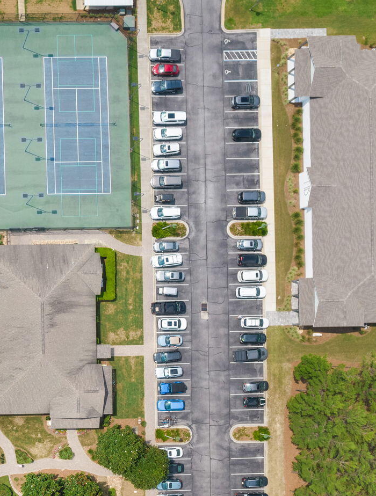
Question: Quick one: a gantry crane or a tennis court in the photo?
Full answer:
The image shows a tennis court.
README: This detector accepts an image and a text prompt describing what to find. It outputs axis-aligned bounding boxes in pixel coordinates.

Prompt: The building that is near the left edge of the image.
[0,244,113,428]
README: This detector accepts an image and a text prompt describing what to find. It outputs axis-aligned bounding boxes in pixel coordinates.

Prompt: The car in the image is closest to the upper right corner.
[230,96,259,110]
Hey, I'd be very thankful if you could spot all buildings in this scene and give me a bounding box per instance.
[0,244,113,428]
[286,34,376,326]
[82,0,133,14]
